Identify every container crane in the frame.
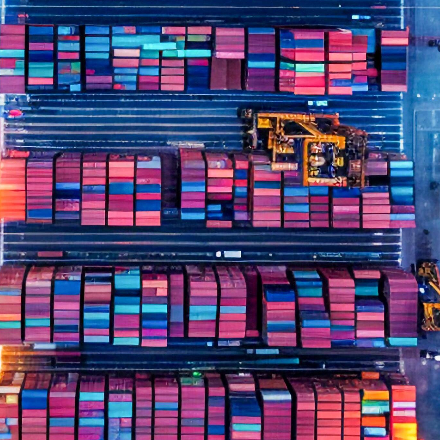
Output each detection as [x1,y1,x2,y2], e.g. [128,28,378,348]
[237,108,370,189]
